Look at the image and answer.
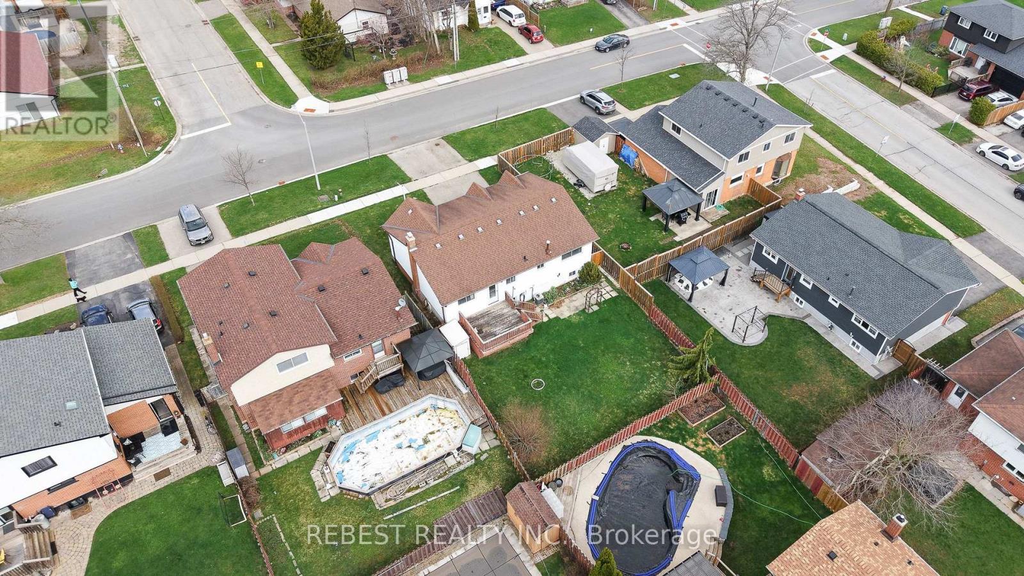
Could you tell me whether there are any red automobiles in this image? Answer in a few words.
Yes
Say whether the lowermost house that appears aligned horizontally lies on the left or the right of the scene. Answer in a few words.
right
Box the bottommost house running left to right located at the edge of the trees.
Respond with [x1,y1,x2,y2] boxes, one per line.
[766,499,939,576]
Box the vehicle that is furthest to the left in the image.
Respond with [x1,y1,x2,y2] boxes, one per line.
[74,293,118,328]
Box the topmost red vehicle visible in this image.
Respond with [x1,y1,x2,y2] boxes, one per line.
[517,22,546,42]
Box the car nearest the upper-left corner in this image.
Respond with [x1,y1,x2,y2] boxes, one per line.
[172,202,213,248]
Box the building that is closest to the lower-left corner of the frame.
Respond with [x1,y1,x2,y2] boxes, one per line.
[0,317,186,519]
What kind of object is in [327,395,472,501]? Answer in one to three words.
swimming pool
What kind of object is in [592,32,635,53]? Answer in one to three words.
car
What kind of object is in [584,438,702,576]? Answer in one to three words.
swimming pool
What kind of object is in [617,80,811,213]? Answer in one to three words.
house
